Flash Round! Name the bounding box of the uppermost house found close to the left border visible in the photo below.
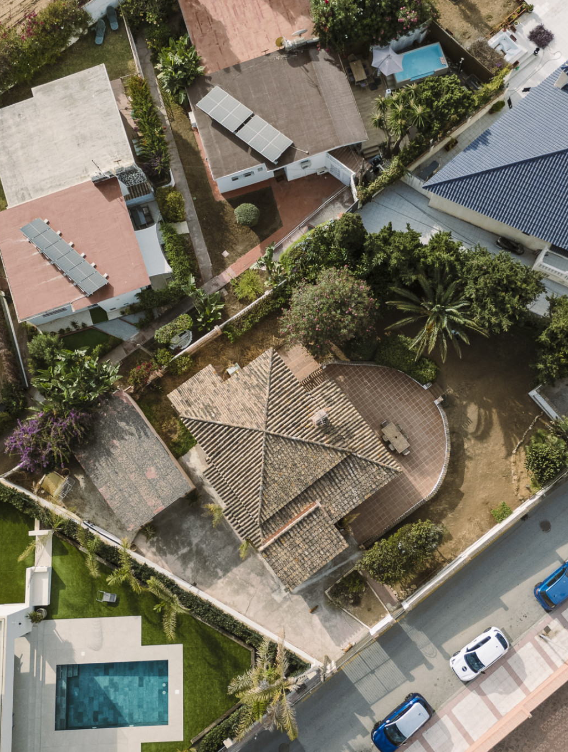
[0,63,159,327]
